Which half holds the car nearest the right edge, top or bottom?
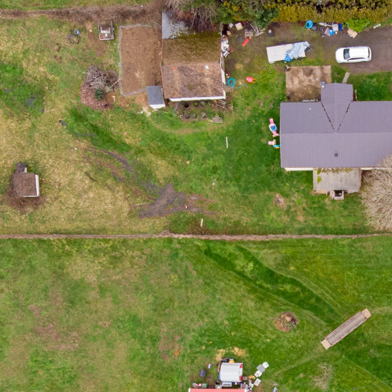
top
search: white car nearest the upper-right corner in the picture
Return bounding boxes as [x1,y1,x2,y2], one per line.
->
[335,45,372,65]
